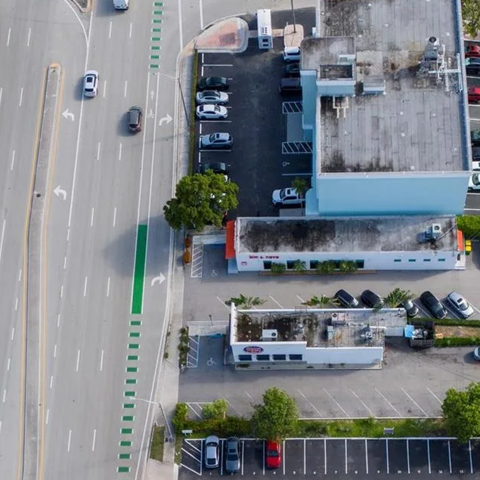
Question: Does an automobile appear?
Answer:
Yes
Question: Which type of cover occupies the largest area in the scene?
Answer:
paved ground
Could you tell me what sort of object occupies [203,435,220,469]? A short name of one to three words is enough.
car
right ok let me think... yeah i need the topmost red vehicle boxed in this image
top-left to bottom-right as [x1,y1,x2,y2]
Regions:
[462,44,480,58]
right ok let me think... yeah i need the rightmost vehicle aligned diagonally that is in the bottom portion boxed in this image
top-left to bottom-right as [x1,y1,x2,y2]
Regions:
[446,290,476,318]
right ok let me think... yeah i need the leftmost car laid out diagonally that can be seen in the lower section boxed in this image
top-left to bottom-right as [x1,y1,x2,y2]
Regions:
[331,284,362,310]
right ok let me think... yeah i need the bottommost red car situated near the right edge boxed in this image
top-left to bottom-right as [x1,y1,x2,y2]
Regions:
[466,87,480,100]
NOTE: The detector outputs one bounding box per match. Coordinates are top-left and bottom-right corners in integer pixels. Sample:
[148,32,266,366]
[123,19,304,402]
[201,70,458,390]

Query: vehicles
[278,77,303,93]
[331,284,362,310]
[257,8,273,50]
[469,129,480,145]
[265,436,280,469]
[463,58,480,73]
[462,44,480,58]
[203,435,220,469]
[84,71,98,96]
[398,298,424,318]
[201,132,232,148]
[466,87,480,100]
[471,162,480,176]
[284,63,301,77]
[469,174,480,190]
[273,188,310,206]
[225,437,240,472]
[283,46,301,61]
[199,76,228,90]
[419,290,449,318]
[113,0,129,12]
[357,285,388,310]
[199,162,229,176]
[471,148,480,161]
[446,290,476,318]
[197,91,227,104]
[473,348,480,362]
[196,104,227,118]
[128,106,142,132]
